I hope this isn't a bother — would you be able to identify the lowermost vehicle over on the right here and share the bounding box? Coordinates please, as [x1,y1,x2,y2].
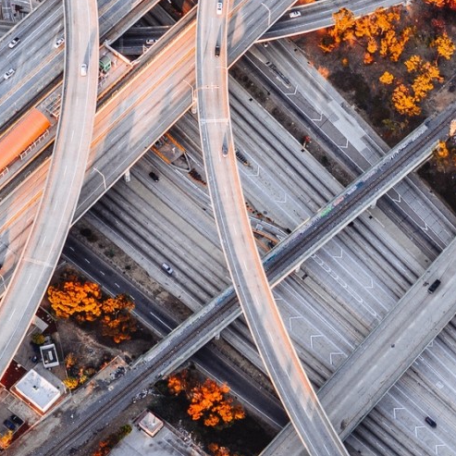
[425,415,439,429]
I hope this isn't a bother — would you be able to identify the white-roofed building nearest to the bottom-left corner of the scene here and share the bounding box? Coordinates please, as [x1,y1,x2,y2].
[14,369,61,417]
